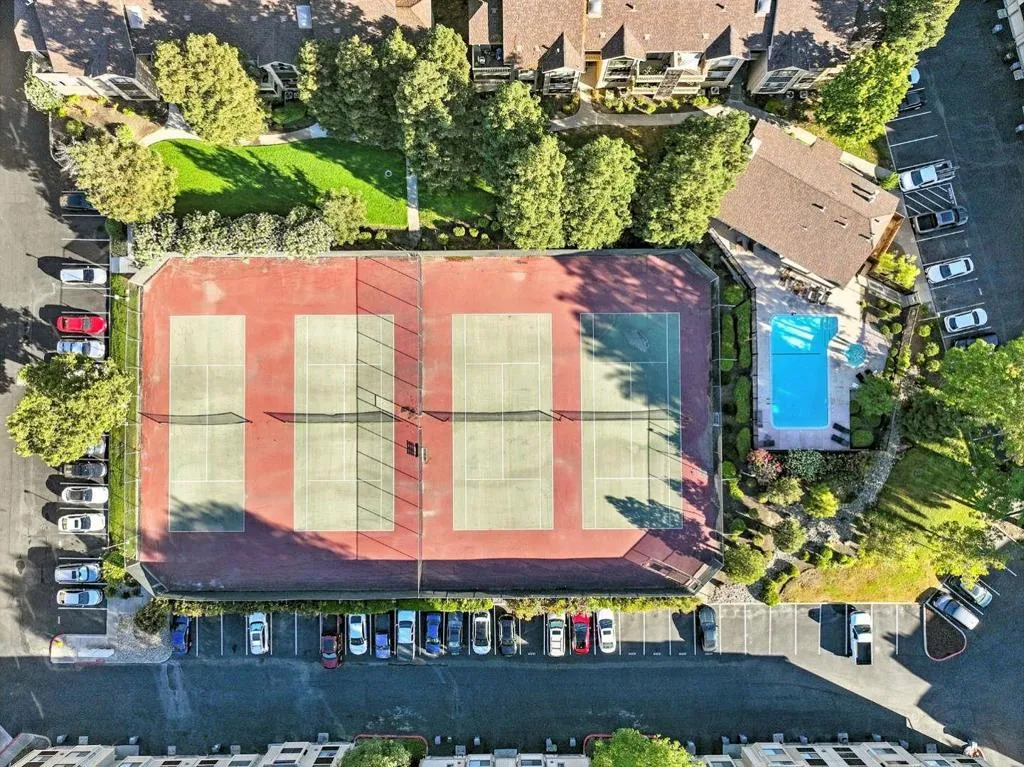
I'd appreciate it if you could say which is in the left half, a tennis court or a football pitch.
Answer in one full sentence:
What appears in the left half is a tennis court.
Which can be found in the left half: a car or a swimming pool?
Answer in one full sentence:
Visible in the left half is a car.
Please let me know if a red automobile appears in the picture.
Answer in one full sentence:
Yes, the photo shows a red automobile.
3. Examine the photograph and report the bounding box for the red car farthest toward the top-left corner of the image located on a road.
[56,314,108,334]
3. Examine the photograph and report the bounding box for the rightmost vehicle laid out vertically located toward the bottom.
[849,609,874,666]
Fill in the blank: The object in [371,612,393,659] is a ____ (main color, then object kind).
blue truck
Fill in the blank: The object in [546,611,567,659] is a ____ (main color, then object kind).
white car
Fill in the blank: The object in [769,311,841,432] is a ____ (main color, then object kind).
blue swimming pool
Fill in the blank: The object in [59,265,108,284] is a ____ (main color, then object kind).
white car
